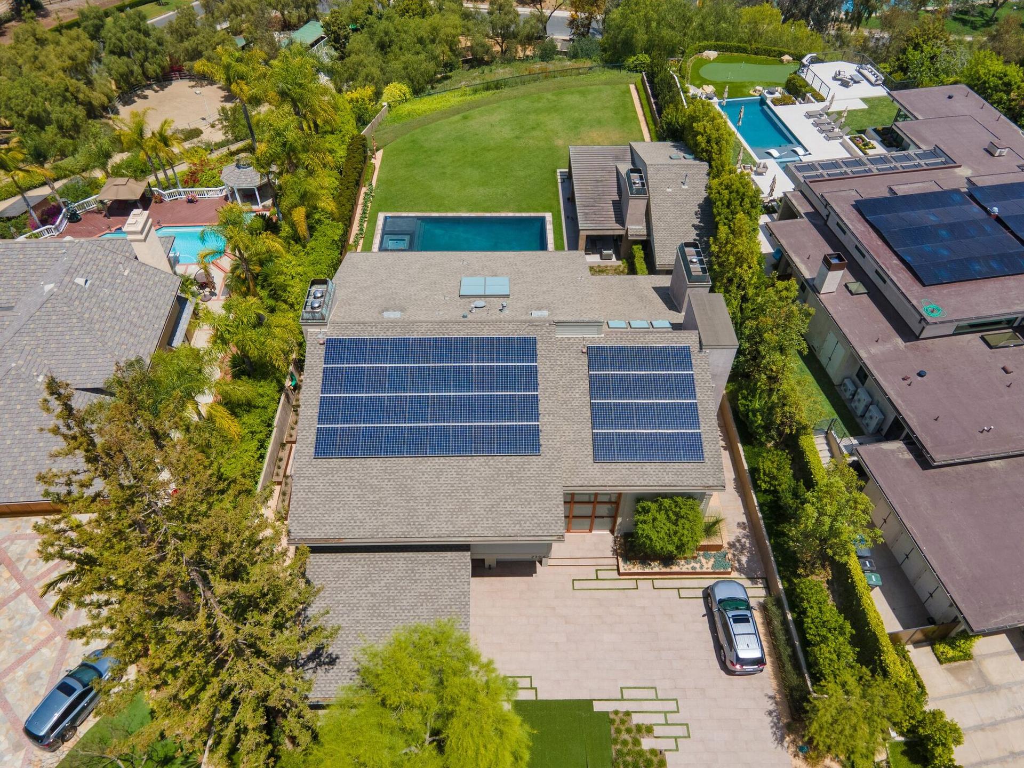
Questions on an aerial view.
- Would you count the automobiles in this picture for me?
2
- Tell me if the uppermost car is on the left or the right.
right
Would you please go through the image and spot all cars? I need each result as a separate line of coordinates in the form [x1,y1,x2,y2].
[18,644,129,758]
[710,578,769,680]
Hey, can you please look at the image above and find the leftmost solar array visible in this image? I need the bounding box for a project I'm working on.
[314,335,540,459]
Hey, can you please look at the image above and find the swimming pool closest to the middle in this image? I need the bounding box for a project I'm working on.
[371,213,554,252]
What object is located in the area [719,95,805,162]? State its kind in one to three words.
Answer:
swimming pool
